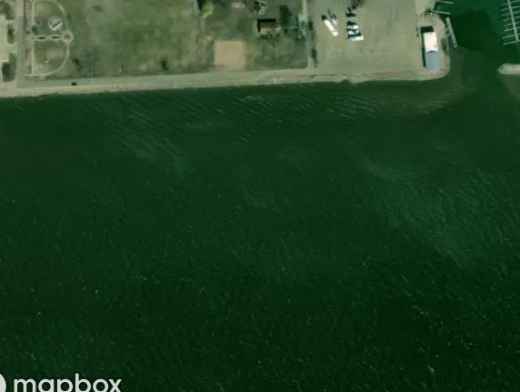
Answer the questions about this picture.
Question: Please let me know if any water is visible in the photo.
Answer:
Yes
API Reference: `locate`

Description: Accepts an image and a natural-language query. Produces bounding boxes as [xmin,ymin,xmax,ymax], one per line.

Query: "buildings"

[423,32,441,72]
[258,20,277,34]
